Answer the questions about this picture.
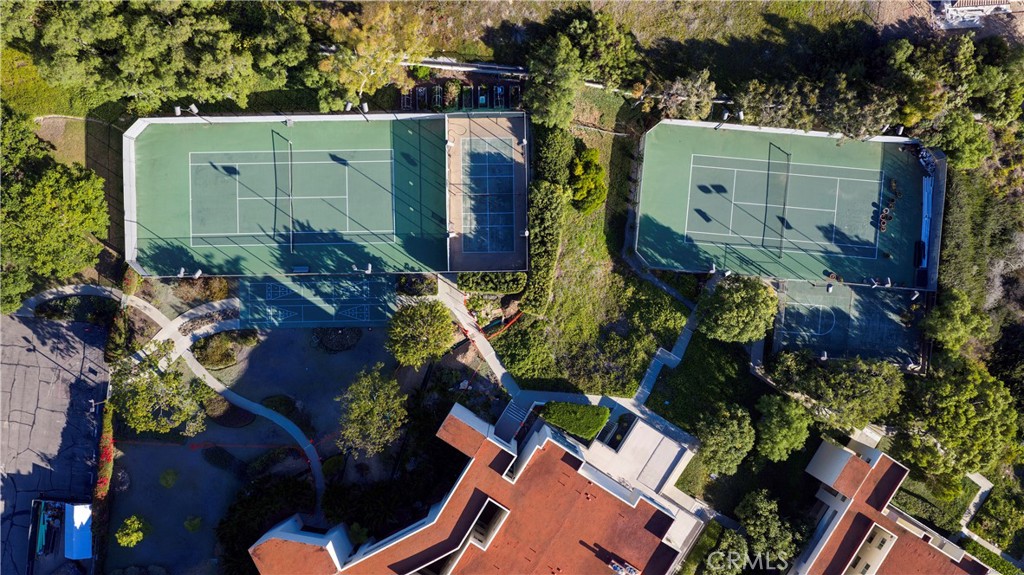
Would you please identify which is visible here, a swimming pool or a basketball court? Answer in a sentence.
There is a basketball court in the scene.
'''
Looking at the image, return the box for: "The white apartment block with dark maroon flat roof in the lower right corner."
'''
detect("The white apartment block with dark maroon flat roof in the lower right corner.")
[766,438,999,575]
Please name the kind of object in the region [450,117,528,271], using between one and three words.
tennis court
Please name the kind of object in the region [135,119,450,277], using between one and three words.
tennis court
